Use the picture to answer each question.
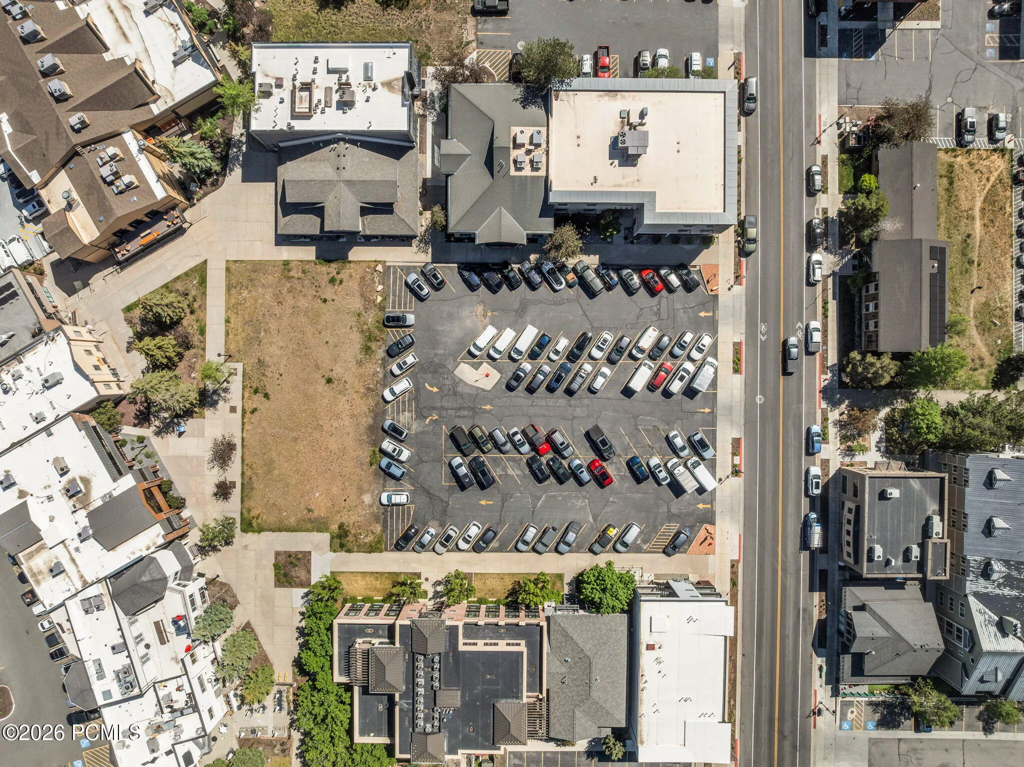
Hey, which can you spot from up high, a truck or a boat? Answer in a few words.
truck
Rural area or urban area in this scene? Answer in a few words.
urban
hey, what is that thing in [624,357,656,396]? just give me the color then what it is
white van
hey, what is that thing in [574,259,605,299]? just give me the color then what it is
gray truck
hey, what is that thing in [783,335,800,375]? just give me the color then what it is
gray vehicle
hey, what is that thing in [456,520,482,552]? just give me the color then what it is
white car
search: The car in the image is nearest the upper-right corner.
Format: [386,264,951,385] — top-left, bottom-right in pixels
[987,2,1020,19]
